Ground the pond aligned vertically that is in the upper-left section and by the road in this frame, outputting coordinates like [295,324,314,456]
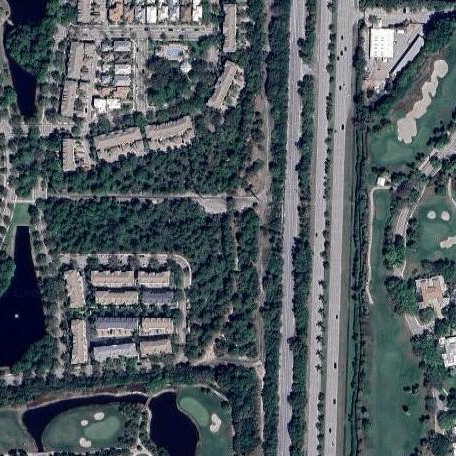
[4,0,48,117]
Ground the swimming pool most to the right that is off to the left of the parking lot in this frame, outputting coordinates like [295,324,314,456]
[157,43,188,60]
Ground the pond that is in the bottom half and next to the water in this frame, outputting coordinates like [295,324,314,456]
[0,225,46,366]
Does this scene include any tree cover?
Yes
